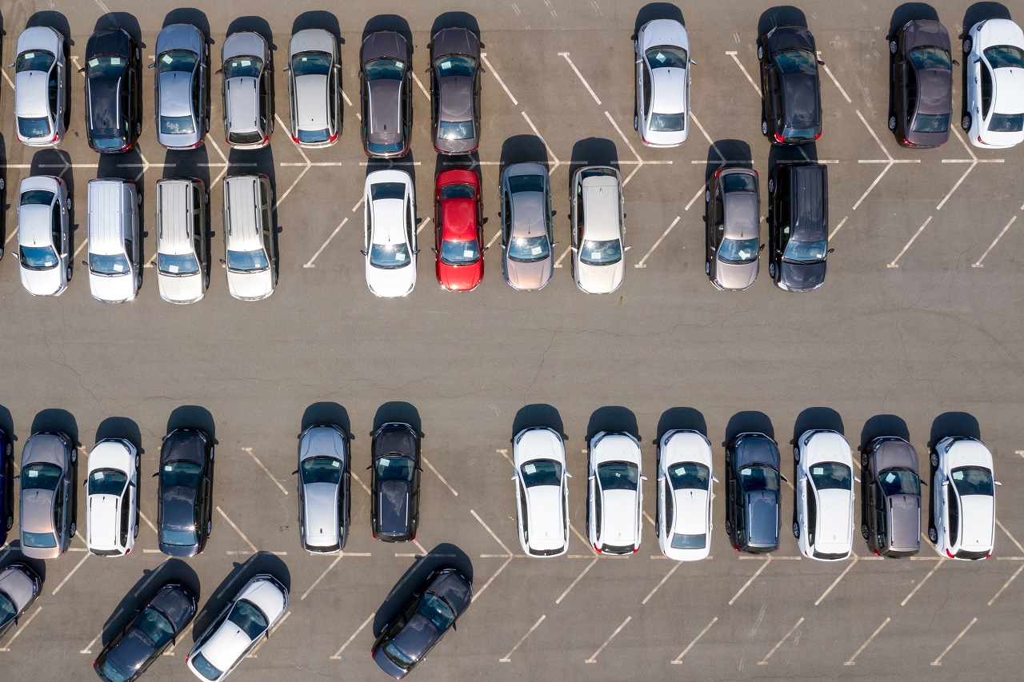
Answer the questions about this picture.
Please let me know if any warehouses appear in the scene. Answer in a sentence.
No, no warehouse is visible in the scene.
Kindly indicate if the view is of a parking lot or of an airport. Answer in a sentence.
The picture captures a parking lot.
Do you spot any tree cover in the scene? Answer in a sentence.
No, there's no tree cover in this view.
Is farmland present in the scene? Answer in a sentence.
No, there is no farmland in the image.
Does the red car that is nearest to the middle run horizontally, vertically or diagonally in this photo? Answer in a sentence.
From this overhead view, the red car that is nearest to the middle appears to run vertically.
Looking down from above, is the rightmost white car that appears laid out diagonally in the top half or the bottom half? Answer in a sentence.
Seen from above, the rightmost white car that appears laid out diagonally lies in the bottom half of the view.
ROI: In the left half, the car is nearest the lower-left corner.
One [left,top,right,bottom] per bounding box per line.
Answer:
[0,562,44,651]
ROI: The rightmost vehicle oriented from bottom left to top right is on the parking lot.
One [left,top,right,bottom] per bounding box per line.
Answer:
[371,566,470,682]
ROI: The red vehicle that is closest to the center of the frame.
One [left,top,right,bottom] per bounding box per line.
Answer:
[430,169,489,292]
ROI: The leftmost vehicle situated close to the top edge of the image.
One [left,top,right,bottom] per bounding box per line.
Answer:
[8,26,68,146]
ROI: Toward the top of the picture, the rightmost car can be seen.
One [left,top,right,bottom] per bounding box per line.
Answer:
[961,19,1024,149]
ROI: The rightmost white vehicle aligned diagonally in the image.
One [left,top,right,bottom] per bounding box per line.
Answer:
[185,573,284,682]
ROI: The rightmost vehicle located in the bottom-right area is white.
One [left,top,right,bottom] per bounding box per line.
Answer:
[929,437,1000,560]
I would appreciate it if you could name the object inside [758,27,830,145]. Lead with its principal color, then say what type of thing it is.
black car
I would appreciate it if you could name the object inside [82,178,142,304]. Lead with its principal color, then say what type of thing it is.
white van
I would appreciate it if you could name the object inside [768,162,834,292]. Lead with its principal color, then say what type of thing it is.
black van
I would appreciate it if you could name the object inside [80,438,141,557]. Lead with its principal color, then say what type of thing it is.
white car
